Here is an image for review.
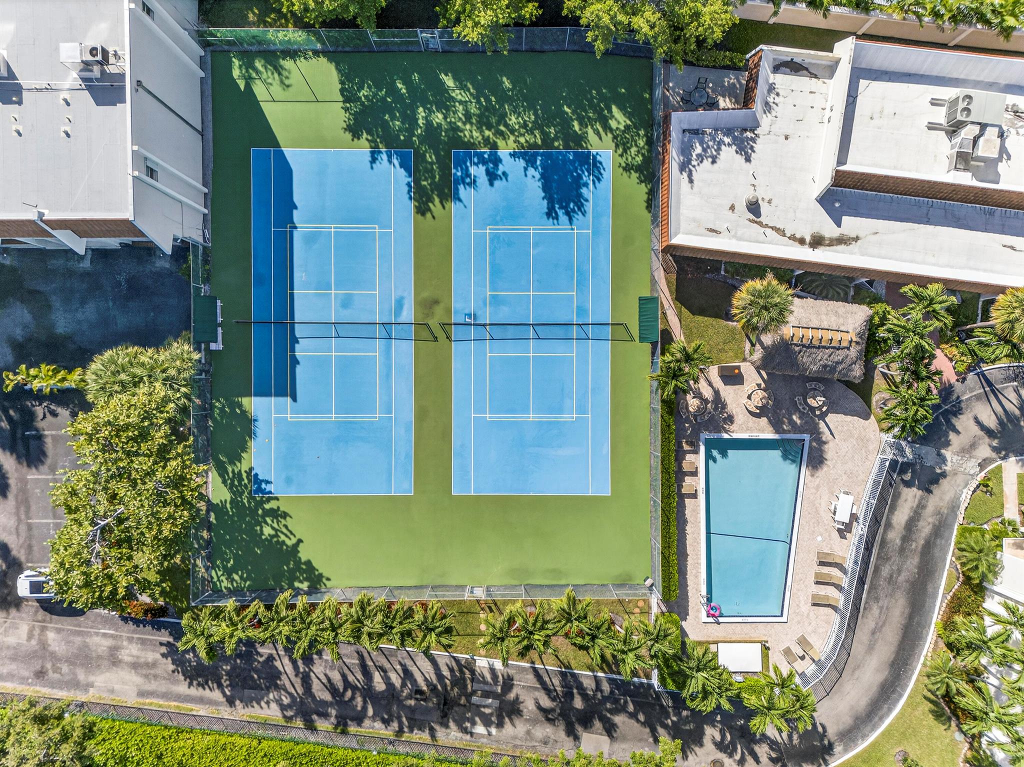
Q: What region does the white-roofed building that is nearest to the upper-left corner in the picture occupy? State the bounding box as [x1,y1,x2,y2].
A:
[0,0,212,254]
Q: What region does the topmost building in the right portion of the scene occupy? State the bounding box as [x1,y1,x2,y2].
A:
[661,36,1024,298]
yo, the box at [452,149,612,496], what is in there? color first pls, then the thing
blue tennis court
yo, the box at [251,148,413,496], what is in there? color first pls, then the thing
blue tennis court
